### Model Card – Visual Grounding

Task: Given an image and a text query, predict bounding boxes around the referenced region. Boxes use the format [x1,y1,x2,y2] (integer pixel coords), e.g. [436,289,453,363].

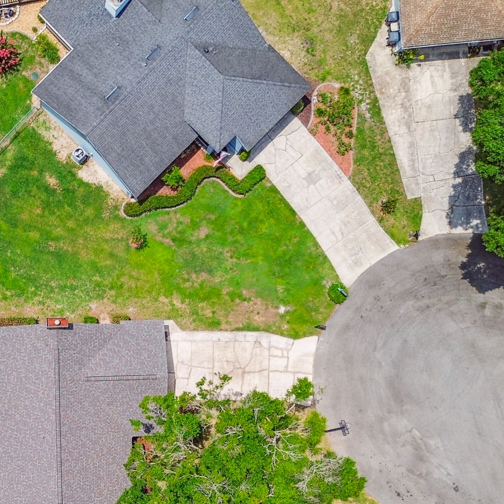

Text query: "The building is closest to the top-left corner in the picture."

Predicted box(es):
[21,0,310,200]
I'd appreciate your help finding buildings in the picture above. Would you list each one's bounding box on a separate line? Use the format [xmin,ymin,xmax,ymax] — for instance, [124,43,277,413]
[390,0,504,58]
[21,0,310,200]
[0,317,168,504]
